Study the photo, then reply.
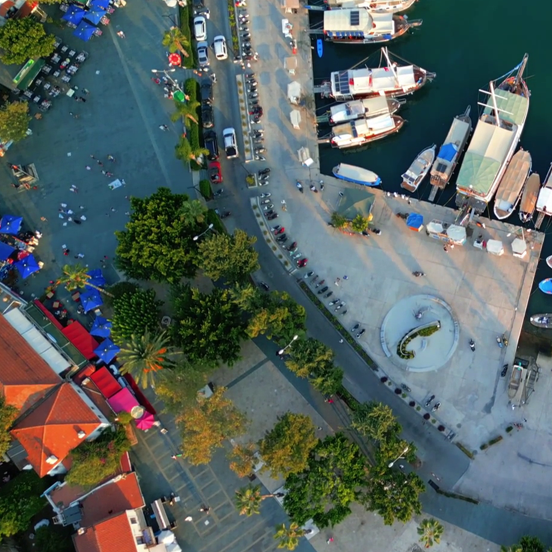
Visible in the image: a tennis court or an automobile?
automobile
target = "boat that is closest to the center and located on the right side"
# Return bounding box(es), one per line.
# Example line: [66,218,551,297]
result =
[332,161,391,185]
